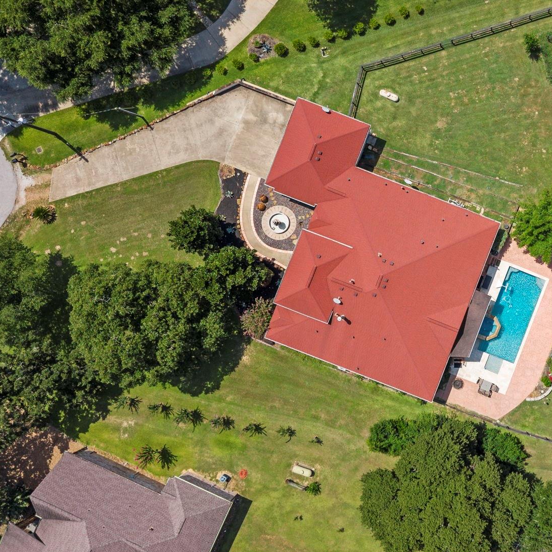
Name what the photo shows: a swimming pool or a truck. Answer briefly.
swimming pool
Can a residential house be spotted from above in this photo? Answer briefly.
Yes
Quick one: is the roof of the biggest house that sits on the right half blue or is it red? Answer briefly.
red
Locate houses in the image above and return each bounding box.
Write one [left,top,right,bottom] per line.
[264,97,501,403]
[0,450,236,552]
